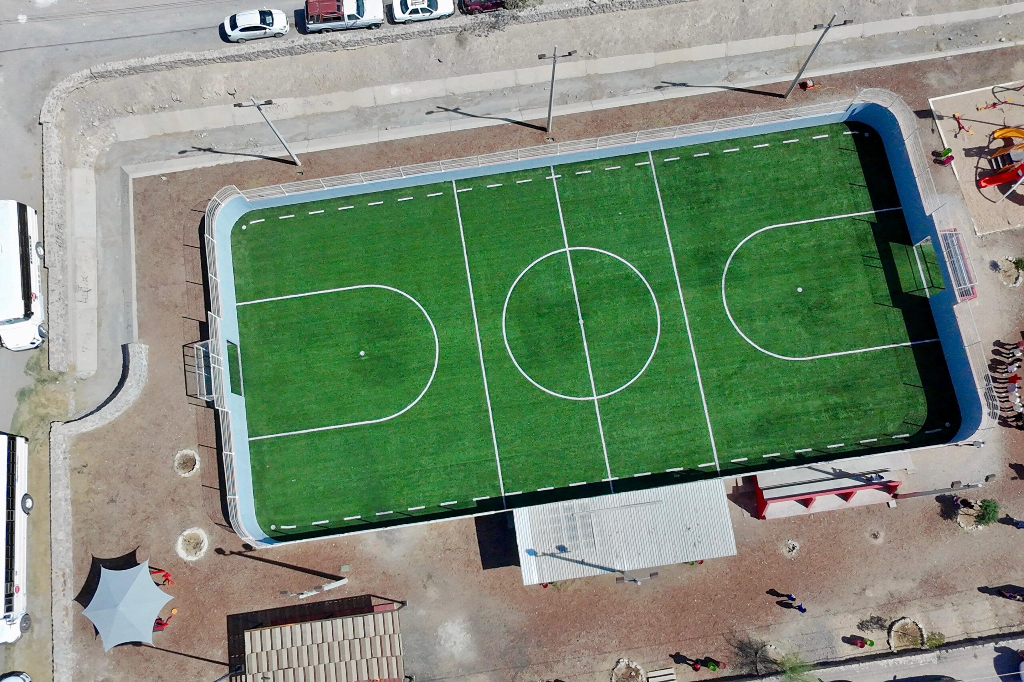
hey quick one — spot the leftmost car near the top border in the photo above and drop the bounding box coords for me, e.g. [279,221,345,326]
[223,4,290,44]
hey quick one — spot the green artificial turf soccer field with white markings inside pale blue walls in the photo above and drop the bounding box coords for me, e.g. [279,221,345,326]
[230,121,959,543]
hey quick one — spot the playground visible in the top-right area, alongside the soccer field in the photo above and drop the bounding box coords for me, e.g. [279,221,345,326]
[928,79,1024,235]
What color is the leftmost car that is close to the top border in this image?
white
